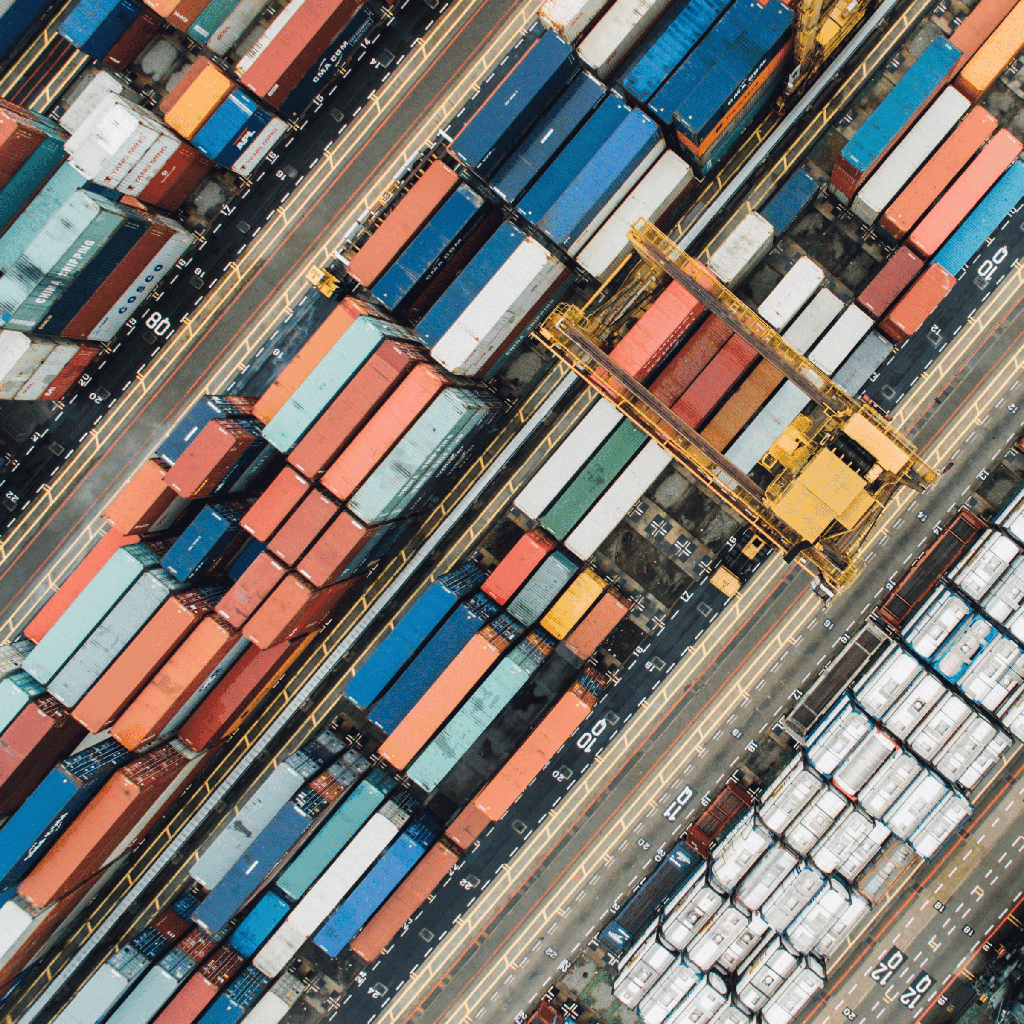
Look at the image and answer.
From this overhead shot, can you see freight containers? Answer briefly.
Yes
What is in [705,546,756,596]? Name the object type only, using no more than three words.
work vehicle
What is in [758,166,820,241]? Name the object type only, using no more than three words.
shipping container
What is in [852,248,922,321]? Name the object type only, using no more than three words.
shipping container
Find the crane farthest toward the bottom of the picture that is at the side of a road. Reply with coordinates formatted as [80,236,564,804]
[528,213,957,603]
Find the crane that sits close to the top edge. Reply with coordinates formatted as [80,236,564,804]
[769,0,890,121]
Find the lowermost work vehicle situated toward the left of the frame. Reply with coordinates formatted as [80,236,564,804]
[297,247,355,297]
